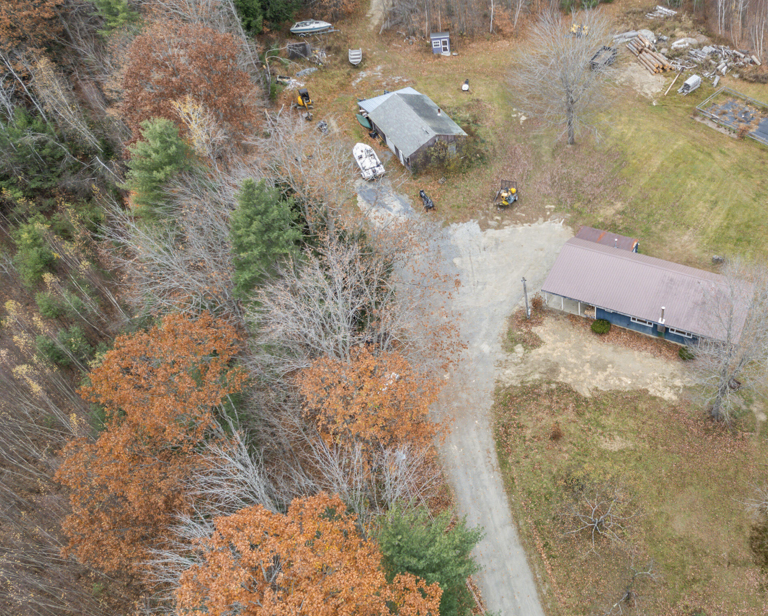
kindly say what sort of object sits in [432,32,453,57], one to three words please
shed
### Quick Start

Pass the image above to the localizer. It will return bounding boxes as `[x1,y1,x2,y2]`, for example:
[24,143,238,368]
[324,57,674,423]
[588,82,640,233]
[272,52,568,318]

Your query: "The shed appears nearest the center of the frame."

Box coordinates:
[356,87,468,172]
